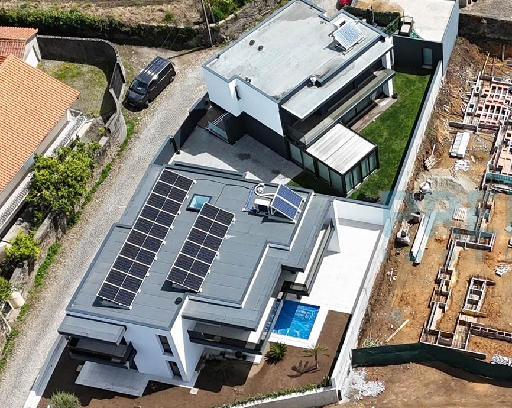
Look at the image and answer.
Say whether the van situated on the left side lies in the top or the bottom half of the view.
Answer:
top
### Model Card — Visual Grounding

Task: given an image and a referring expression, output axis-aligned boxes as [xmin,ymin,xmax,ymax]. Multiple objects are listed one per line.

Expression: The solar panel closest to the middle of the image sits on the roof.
[270,184,305,223]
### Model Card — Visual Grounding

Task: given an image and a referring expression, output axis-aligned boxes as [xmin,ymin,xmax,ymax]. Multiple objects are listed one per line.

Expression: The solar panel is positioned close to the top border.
[334,19,365,52]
